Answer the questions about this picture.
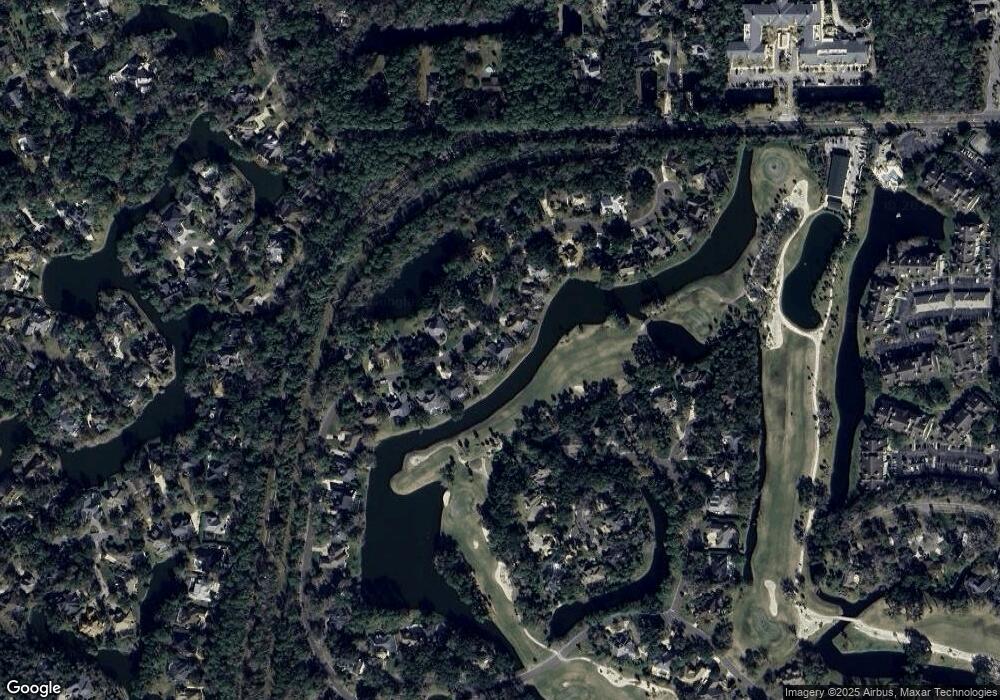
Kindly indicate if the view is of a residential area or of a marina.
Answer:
residential area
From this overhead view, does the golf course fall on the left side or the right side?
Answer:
right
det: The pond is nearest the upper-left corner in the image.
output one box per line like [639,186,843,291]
[124,5,229,57]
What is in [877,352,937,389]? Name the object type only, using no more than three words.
building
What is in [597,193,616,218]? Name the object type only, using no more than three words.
house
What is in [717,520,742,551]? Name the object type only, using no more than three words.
house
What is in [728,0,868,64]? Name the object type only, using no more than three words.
building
